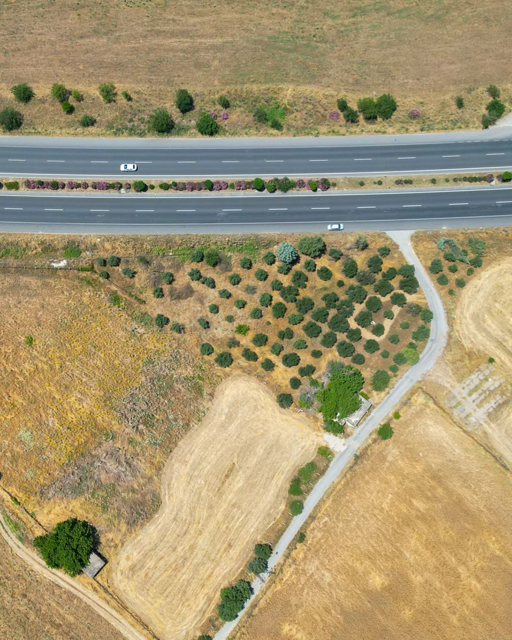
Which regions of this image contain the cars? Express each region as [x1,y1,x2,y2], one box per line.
[120,164,137,171]
[327,223,343,231]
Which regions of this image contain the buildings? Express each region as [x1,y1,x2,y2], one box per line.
[342,399,372,426]
[80,549,108,578]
